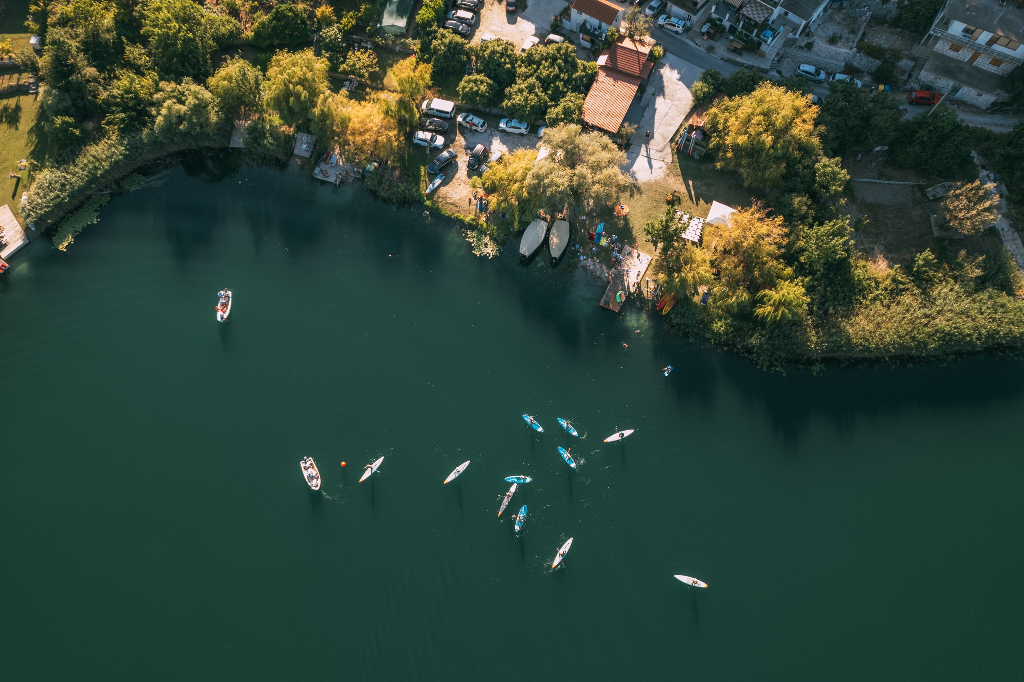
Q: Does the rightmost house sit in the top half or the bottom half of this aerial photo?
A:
top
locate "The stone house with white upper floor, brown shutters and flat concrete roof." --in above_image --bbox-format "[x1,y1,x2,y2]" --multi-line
[910,0,1024,113]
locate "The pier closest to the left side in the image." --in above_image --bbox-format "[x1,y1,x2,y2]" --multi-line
[0,206,32,260]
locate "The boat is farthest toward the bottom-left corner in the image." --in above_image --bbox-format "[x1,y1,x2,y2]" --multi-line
[300,456,320,491]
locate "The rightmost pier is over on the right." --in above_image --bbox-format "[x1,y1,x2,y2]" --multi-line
[599,246,652,315]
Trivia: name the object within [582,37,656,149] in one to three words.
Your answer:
building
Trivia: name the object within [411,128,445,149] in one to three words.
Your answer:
car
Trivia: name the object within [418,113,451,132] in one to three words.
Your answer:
car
